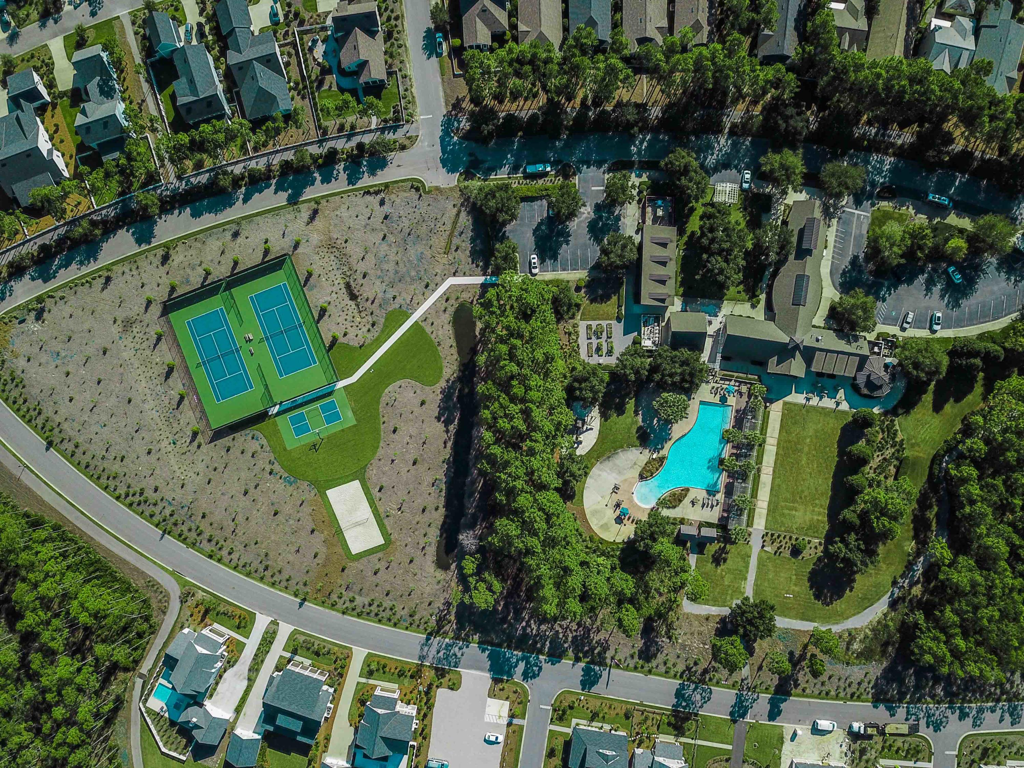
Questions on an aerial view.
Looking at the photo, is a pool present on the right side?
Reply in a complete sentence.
Yes, there is a pool on the right side.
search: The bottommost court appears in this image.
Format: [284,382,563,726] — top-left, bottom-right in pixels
[326,480,384,554]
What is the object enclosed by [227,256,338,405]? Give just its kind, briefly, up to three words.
tennis court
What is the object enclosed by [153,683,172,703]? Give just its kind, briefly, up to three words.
swimming pool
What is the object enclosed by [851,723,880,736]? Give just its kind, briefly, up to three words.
vehicle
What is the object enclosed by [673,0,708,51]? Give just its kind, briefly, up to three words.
house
